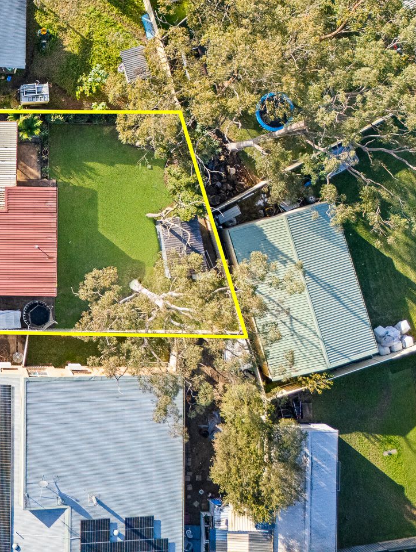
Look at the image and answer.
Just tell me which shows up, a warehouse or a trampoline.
trampoline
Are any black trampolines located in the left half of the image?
Yes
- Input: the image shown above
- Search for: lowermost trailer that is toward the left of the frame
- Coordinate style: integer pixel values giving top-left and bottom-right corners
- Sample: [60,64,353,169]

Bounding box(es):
[20,78,63,106]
